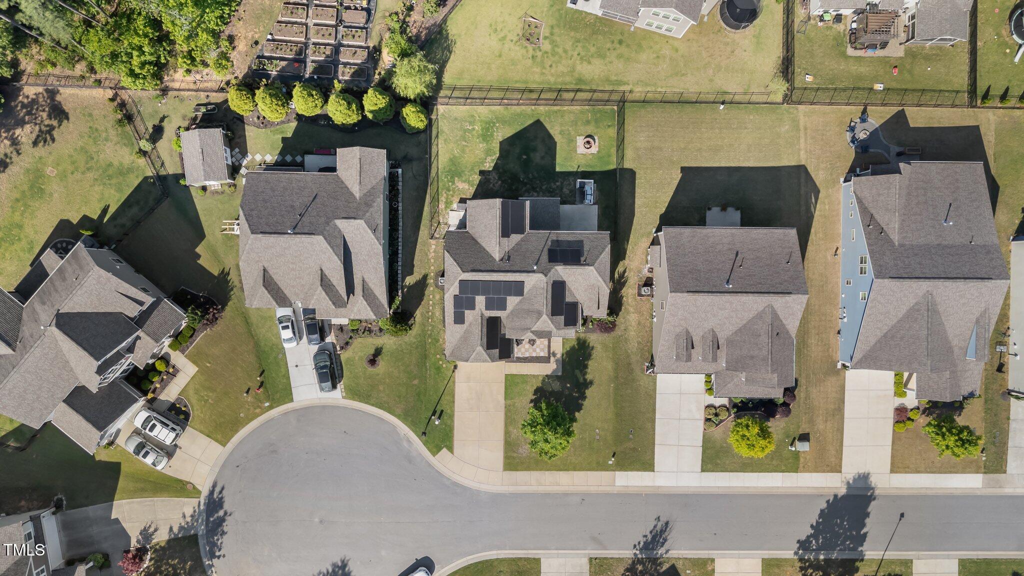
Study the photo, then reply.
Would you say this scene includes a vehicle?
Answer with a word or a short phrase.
Yes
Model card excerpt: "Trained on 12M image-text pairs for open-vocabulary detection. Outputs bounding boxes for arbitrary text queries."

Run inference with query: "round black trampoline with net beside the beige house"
[718,0,764,29]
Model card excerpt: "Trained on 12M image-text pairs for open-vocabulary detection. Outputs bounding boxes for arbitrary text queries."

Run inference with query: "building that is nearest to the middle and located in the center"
[445,197,610,362]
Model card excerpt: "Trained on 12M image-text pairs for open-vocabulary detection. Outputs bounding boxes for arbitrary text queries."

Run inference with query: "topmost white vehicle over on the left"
[276,307,301,348]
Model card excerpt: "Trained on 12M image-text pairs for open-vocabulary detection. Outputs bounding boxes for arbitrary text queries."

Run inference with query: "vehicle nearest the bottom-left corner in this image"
[127,432,170,467]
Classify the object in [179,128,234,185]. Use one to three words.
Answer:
shed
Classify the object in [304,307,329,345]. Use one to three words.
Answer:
car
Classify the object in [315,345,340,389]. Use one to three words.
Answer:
car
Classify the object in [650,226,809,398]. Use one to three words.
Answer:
house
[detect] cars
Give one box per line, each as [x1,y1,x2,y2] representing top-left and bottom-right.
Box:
[276,307,301,348]
[406,565,430,576]
[315,345,340,389]
[127,432,170,467]
[139,409,185,446]
[304,307,329,345]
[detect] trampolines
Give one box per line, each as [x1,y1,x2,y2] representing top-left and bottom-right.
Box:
[718,0,764,29]
[1006,9,1024,45]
